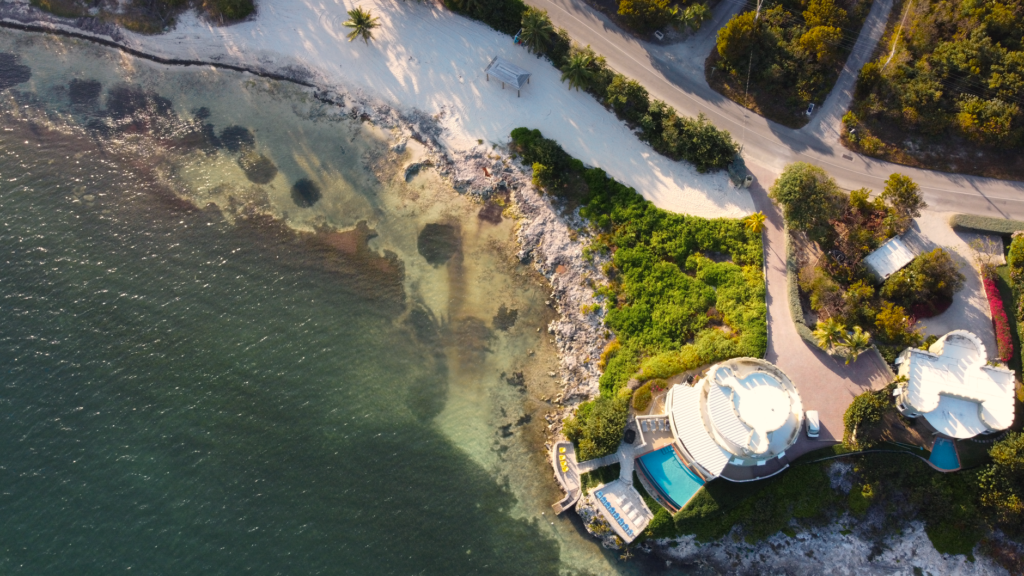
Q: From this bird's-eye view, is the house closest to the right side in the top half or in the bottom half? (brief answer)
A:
bottom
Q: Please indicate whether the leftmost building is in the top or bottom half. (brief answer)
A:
top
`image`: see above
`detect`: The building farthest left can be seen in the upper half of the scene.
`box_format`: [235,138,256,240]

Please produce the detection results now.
[485,55,531,97]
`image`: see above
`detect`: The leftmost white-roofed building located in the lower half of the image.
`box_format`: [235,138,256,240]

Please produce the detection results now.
[665,362,806,481]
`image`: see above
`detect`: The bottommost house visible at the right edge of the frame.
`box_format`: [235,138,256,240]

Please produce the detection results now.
[894,332,1014,439]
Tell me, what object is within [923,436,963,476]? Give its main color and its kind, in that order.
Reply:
blue swimming pool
